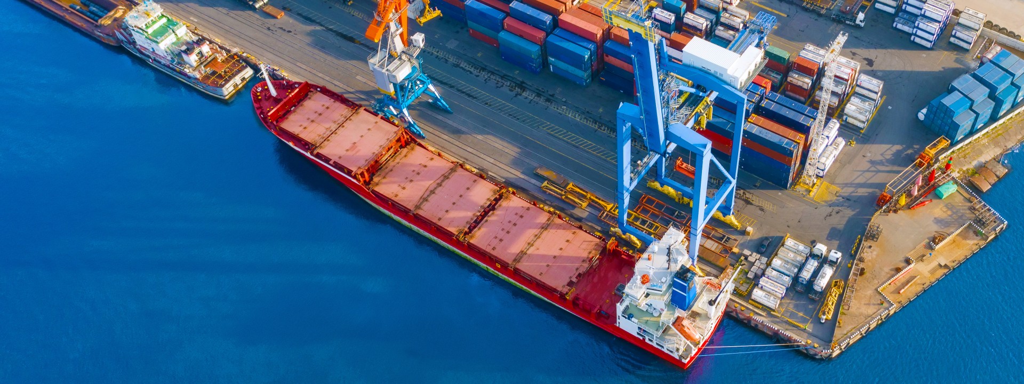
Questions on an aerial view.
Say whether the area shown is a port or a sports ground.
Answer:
port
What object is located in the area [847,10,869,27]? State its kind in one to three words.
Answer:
vehicle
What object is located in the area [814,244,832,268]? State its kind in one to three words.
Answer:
vehicle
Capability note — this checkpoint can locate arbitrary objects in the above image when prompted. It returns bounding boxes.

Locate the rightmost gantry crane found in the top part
[589,0,790,274]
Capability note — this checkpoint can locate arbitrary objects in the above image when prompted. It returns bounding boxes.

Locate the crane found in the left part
[346,0,456,140]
